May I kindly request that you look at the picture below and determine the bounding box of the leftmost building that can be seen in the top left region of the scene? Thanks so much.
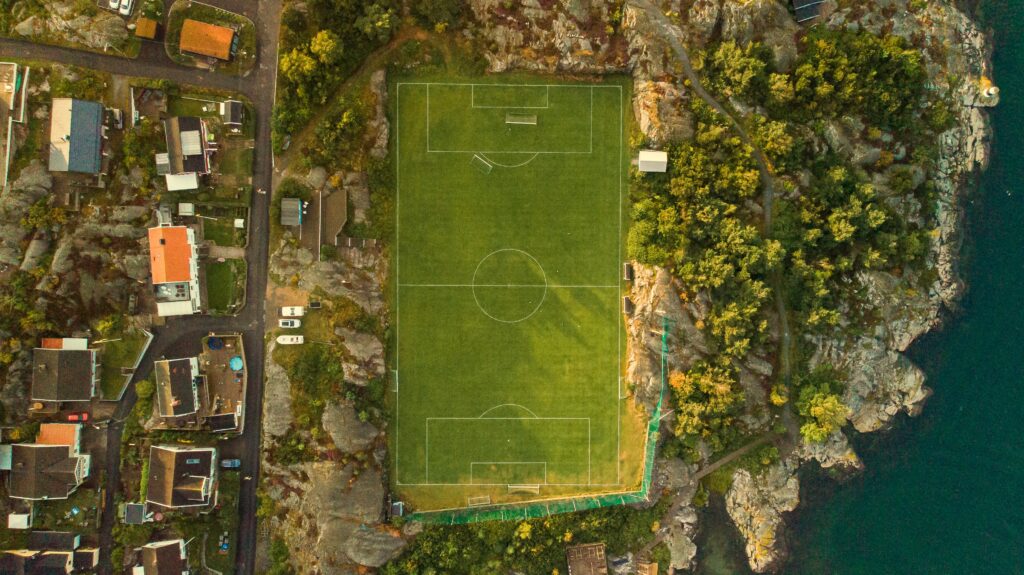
[49,96,110,176]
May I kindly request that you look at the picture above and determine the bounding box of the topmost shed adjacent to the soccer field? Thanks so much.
[637,151,668,173]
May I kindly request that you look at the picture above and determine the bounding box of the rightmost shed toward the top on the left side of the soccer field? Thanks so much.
[281,198,304,225]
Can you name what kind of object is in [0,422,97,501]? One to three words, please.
house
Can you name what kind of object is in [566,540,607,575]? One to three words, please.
building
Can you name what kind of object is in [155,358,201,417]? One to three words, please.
house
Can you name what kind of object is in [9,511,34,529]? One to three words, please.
shed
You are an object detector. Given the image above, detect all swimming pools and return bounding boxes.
[227,356,244,371]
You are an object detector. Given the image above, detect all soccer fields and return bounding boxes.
[386,74,648,513]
